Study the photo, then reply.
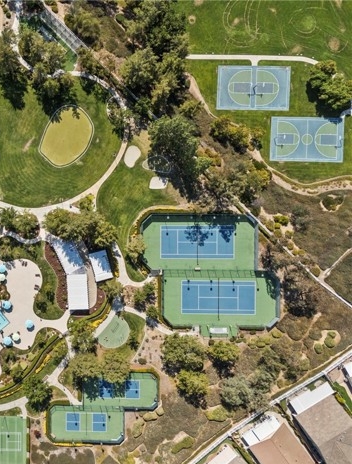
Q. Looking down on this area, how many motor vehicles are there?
0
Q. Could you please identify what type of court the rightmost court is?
basketball court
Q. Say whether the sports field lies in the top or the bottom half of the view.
top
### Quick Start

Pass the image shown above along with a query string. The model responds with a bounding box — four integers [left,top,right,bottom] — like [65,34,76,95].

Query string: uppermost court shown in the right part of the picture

[215,64,292,111]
